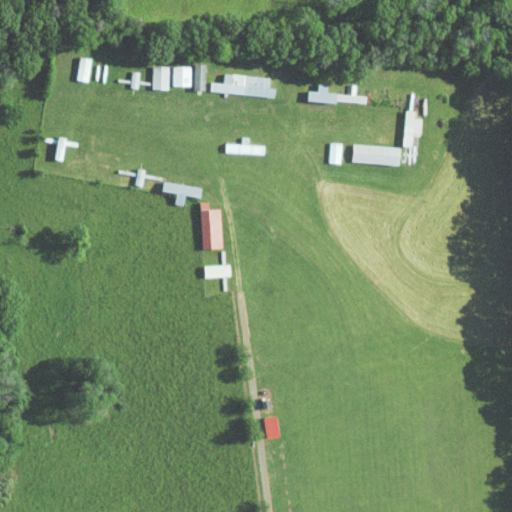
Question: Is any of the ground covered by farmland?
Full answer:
Yes, farmland shows up in the scene.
